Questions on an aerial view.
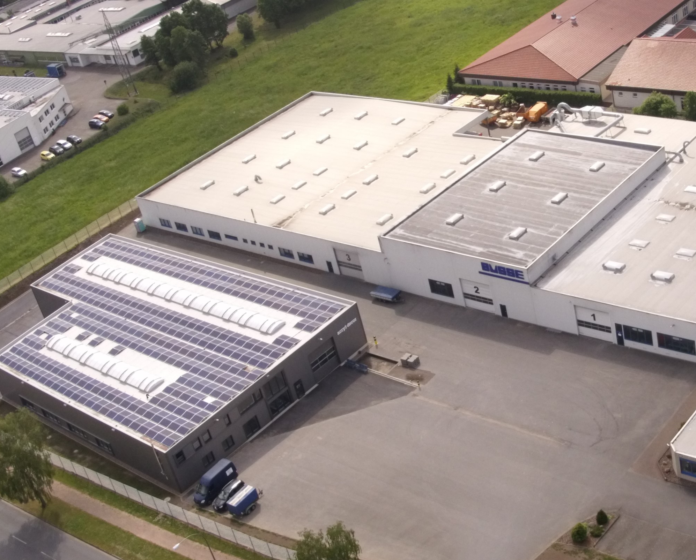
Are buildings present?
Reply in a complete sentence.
Yes, a building is visible in the scene.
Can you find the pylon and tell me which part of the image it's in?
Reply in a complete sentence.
Look in the top left portion of the view to spot the pylon.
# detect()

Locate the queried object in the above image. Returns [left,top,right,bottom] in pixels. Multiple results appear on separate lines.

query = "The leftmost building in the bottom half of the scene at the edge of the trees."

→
[0,233,368,494]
